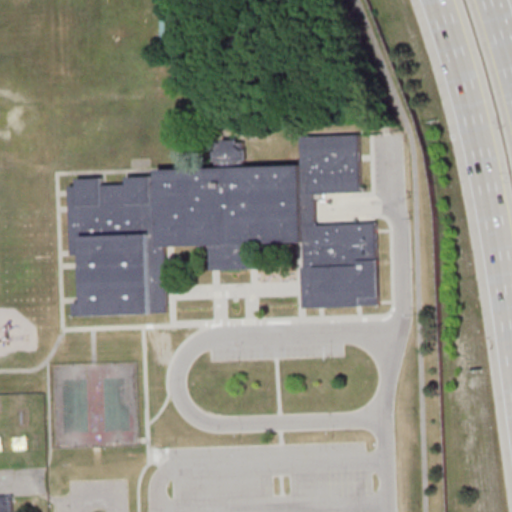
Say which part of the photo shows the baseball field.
top left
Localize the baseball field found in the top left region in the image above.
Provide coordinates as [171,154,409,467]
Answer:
[0,89,27,140]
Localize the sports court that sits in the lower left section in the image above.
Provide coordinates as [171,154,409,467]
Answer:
[54,363,137,448]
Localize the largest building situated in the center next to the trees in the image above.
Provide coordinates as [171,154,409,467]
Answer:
[66,134,380,316]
